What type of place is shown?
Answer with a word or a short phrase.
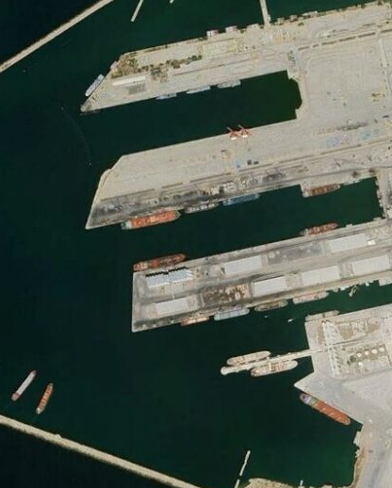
port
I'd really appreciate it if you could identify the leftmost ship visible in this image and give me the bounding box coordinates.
[11,371,36,401]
